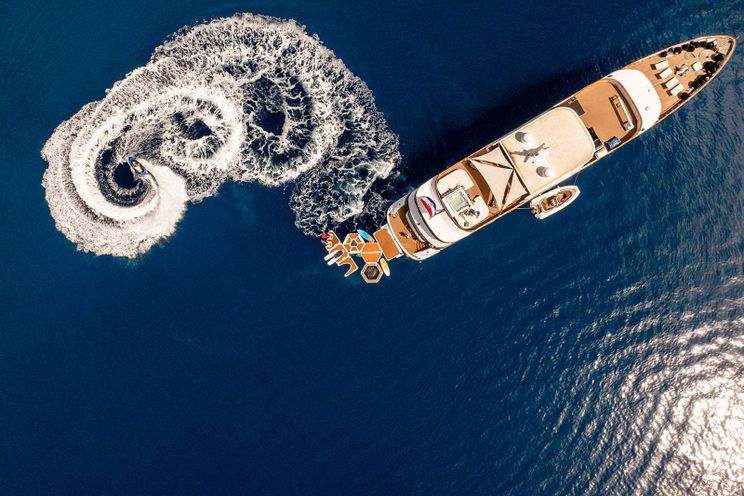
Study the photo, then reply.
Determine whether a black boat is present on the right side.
No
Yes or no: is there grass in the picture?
No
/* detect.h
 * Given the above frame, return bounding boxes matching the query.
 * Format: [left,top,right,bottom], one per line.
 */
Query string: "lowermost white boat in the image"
[323,250,344,265]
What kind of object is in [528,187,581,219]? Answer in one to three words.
boat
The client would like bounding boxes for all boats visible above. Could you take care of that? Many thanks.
[373,33,744,261]
[528,187,581,219]
[323,250,344,265]
[129,158,146,176]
